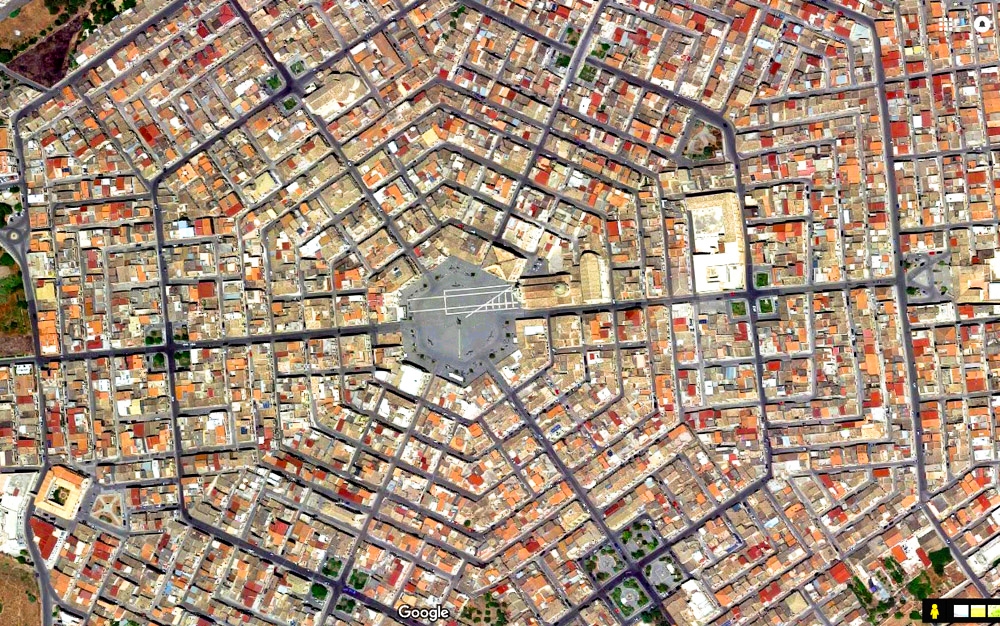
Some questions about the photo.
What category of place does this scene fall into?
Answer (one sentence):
The area seen from above is a residential area.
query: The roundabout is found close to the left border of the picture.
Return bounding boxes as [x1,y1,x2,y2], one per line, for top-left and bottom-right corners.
[0,216,28,256]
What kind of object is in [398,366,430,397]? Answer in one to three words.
building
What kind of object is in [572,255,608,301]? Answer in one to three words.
building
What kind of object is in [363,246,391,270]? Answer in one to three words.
house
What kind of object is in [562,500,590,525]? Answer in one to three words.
house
